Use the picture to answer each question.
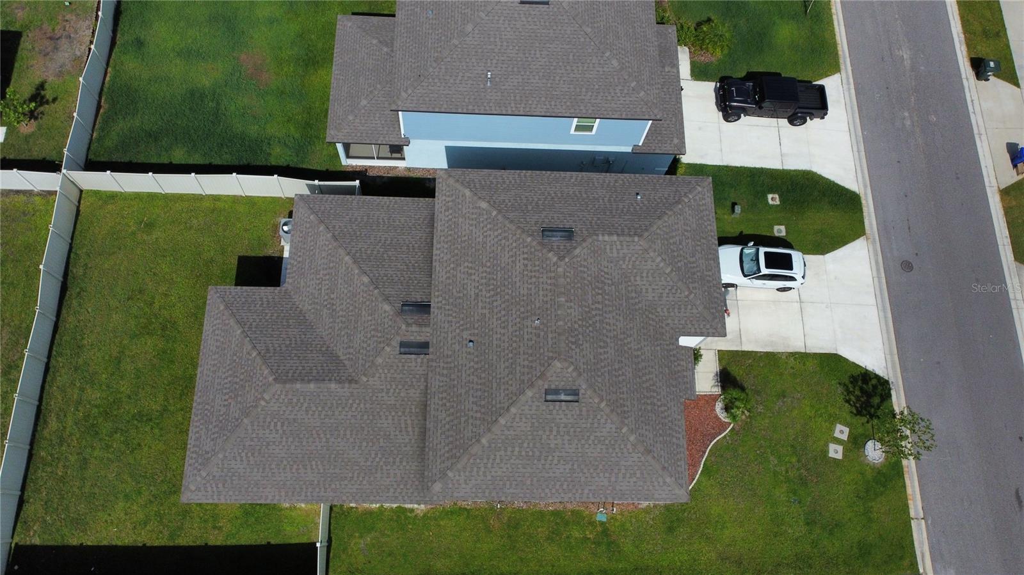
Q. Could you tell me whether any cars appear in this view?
Yes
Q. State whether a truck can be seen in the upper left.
No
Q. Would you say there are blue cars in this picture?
No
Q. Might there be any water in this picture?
No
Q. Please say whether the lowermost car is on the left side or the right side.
right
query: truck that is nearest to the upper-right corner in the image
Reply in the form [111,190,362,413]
[716,76,829,126]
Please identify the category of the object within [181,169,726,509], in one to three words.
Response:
house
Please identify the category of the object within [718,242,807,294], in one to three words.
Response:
car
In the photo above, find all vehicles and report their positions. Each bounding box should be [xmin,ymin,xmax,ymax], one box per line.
[718,242,807,294]
[716,76,829,126]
